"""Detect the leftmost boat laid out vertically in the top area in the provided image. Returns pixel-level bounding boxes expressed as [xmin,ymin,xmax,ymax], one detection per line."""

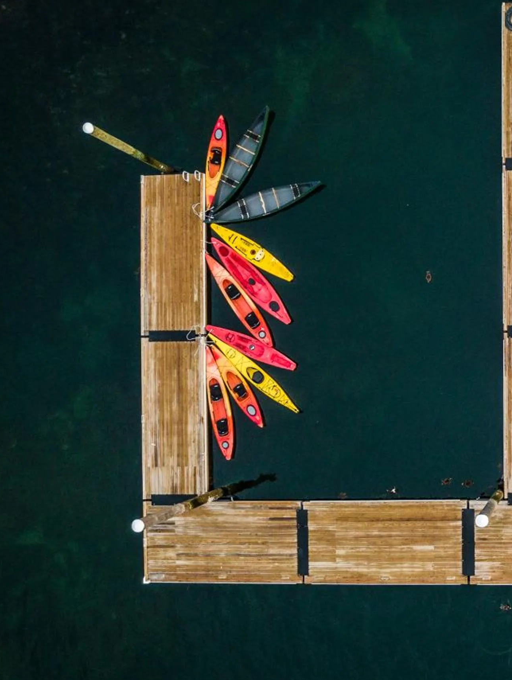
[204,114,226,209]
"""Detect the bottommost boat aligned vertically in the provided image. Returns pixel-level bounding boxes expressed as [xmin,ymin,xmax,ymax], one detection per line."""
[209,349,232,460]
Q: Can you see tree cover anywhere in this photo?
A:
No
